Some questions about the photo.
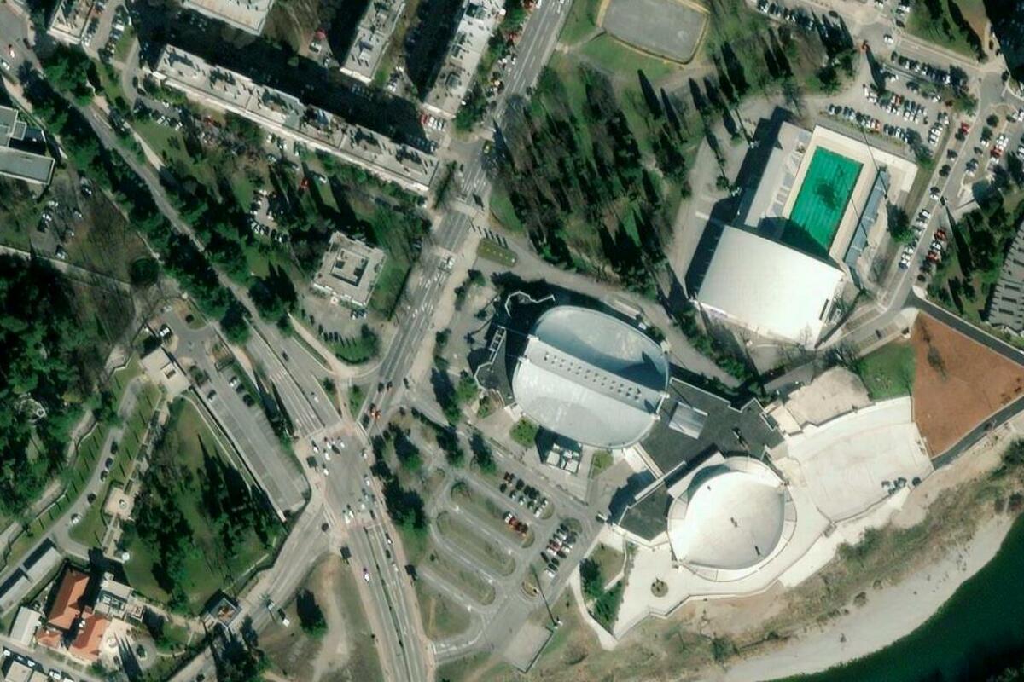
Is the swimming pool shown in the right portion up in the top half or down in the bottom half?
top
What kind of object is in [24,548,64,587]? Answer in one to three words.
shed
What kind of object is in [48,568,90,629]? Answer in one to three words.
house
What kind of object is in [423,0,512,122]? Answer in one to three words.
building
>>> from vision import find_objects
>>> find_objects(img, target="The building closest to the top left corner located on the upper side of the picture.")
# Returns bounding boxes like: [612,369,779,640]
[49,0,99,47]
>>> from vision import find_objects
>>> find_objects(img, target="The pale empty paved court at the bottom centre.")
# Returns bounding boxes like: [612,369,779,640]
[512,625,552,671]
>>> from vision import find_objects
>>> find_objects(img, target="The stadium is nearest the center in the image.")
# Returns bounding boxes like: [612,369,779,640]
[512,305,670,452]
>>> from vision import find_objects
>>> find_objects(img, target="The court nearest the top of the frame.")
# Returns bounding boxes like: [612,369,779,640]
[603,0,705,61]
